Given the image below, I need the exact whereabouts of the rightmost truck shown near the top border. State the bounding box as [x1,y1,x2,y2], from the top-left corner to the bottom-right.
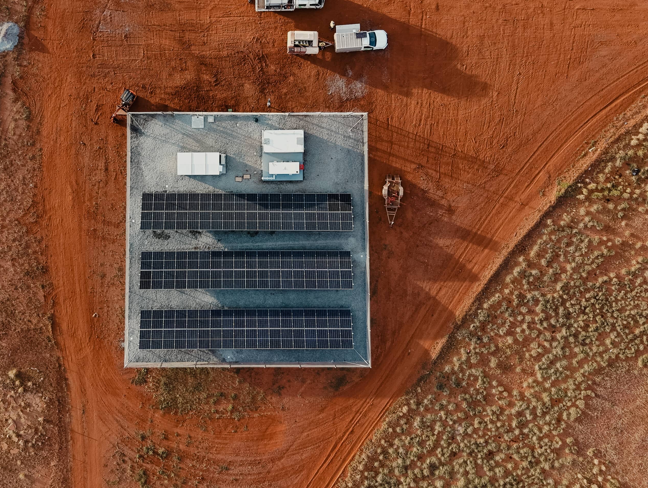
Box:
[332,17,389,52]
